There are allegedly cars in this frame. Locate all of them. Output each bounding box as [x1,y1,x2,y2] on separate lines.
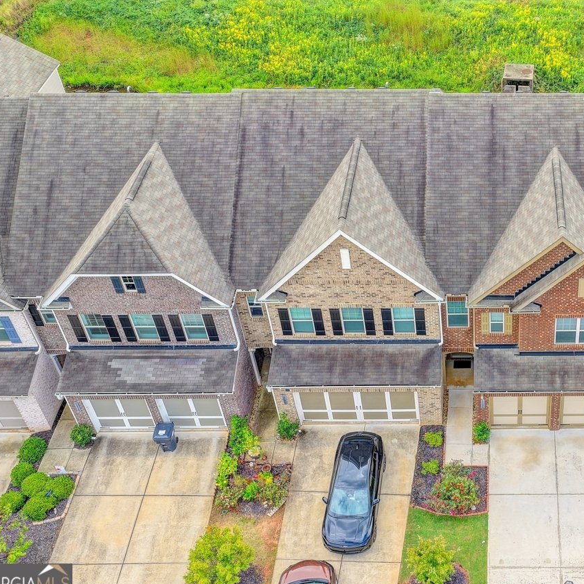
[320,429,384,552]
[283,564,338,584]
